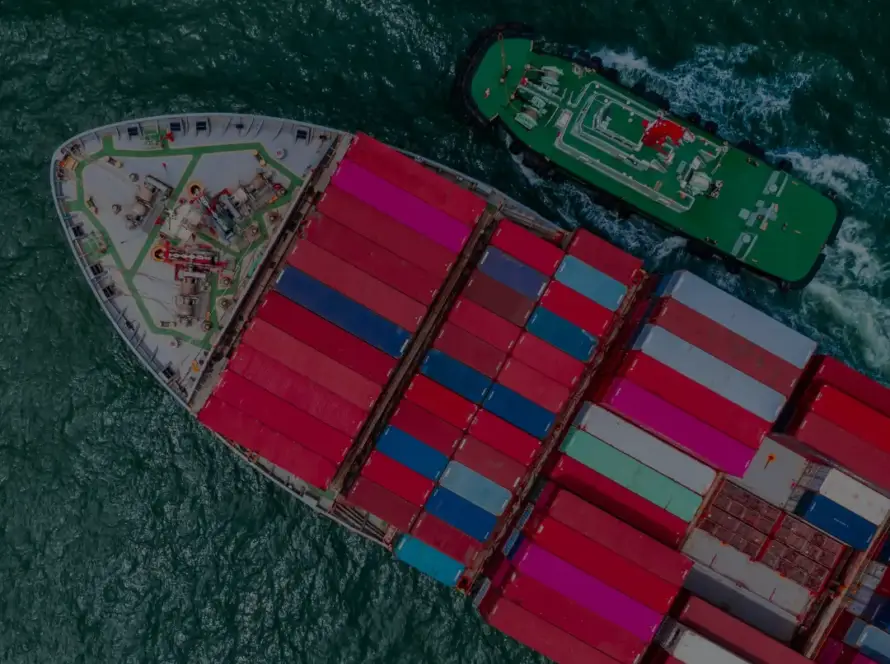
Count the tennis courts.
0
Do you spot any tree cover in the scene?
No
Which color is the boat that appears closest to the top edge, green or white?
green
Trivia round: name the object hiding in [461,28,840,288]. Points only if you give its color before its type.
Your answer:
green boat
